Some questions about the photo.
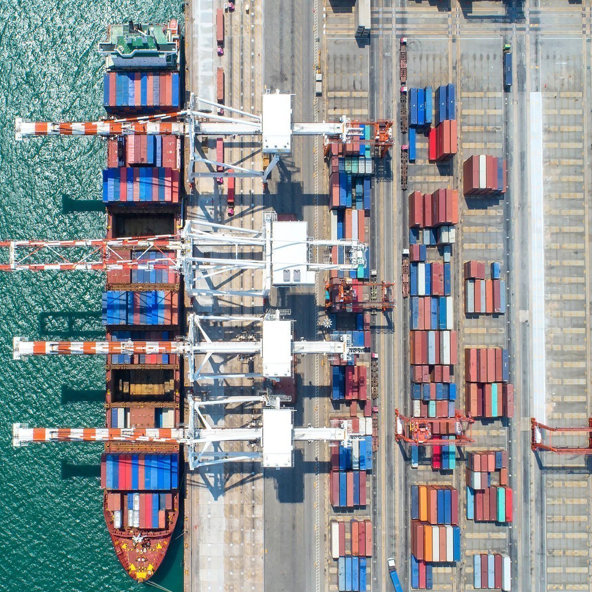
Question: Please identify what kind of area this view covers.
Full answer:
This image shows a port.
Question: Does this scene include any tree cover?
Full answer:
No, there is no tree cover in the image.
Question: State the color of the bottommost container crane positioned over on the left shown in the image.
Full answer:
The color of the bottommost container crane positioned over on the left is white.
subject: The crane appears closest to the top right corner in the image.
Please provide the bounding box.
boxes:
[323,120,395,162]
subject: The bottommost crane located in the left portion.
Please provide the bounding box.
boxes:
[11,384,366,472]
